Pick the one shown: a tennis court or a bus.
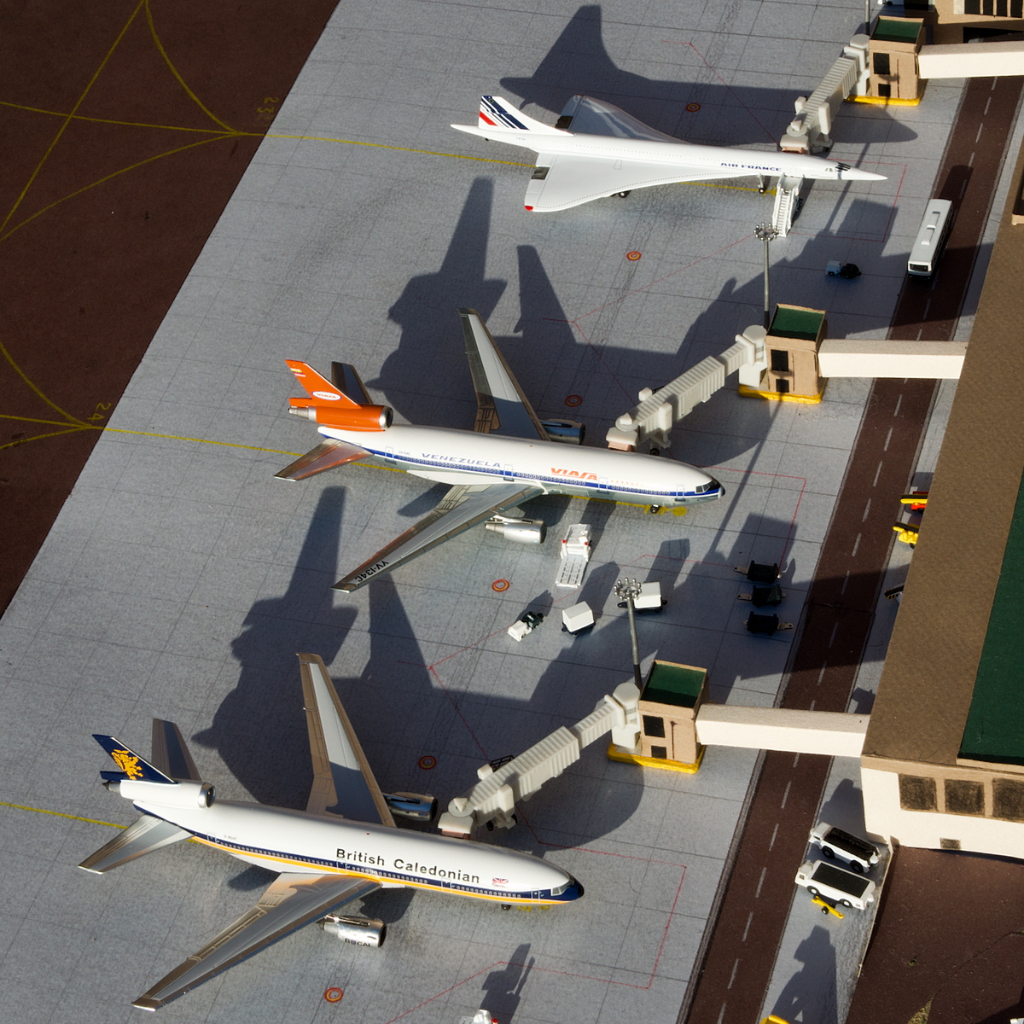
bus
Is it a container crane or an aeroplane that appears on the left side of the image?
aeroplane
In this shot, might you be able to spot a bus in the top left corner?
No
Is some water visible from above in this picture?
No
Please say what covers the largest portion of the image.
paved ground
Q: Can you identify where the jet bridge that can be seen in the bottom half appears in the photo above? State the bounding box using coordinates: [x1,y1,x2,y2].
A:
[437,681,642,843]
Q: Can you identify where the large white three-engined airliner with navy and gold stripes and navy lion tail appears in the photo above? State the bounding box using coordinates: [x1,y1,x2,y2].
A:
[79,653,584,1011]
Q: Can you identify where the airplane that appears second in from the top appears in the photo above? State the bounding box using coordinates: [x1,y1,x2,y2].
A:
[274,308,725,591]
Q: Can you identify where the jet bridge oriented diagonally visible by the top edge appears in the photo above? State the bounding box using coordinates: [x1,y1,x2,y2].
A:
[782,33,870,157]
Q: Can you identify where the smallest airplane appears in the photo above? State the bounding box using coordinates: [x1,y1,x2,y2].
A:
[451,94,887,211]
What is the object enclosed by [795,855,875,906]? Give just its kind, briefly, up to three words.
truck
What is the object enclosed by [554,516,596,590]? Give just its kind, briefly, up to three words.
work vehicle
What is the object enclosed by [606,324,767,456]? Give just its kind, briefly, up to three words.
jet bridge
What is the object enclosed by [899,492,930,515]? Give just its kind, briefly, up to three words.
work vehicle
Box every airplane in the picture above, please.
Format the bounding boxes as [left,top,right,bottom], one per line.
[79,653,584,1011]
[274,308,725,591]
[451,94,887,211]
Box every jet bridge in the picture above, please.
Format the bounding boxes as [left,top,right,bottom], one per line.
[606,324,767,456]
[782,33,870,157]
[437,681,642,843]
